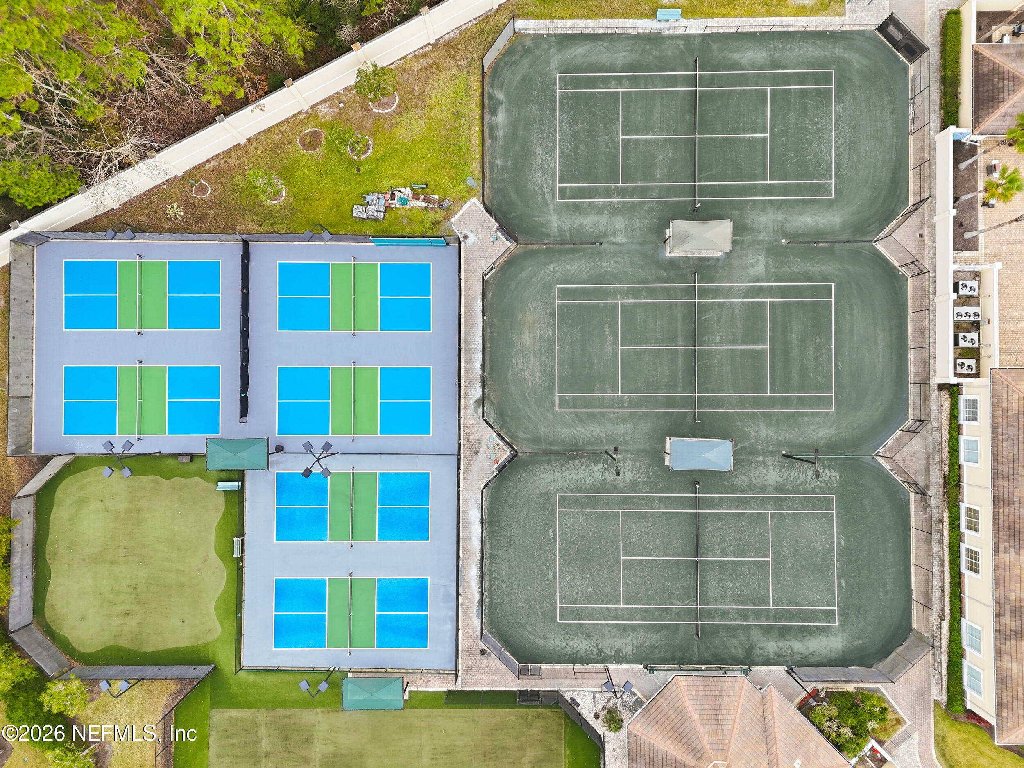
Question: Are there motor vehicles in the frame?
No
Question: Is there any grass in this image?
Yes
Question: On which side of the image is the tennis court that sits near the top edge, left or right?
right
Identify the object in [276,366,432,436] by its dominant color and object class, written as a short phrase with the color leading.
blue sports court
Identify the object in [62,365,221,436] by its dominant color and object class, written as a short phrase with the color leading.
blue sports court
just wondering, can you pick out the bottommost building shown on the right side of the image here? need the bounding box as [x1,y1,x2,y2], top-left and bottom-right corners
[624,671,857,768]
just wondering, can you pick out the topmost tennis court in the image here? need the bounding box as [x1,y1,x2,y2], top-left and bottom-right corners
[486,31,910,243]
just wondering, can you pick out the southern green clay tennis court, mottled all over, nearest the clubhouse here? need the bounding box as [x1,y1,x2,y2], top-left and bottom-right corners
[484,454,912,668]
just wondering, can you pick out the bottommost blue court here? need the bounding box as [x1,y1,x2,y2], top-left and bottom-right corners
[272,577,430,650]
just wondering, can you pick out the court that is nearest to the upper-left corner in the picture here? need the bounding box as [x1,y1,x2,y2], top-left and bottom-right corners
[63,259,221,331]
